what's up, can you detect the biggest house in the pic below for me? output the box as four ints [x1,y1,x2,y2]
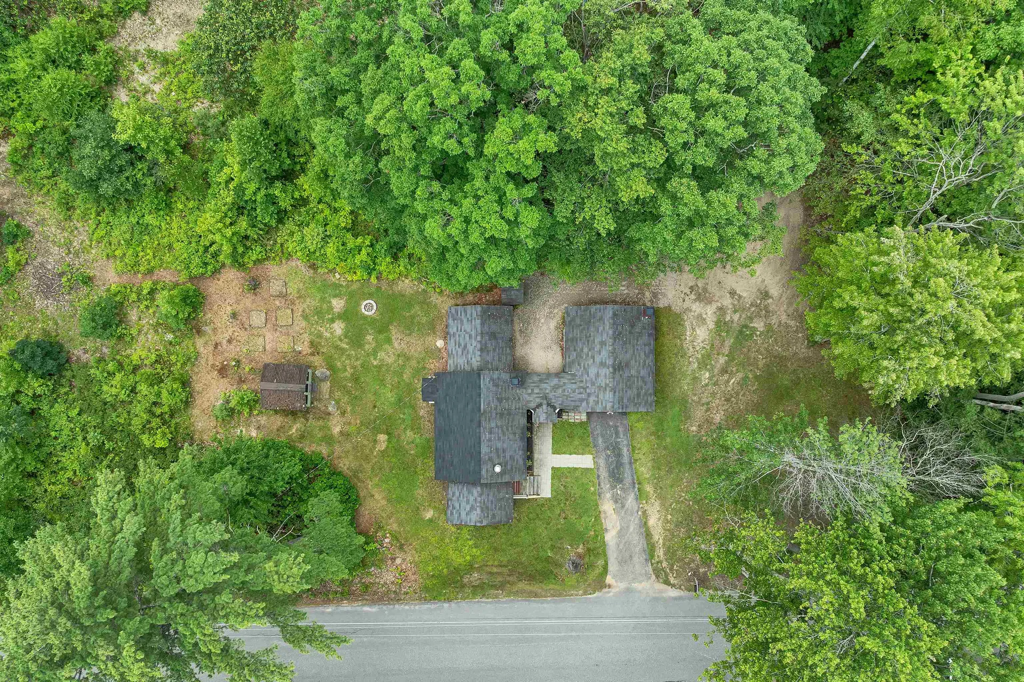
[421,305,655,527]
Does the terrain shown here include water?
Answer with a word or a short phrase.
No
